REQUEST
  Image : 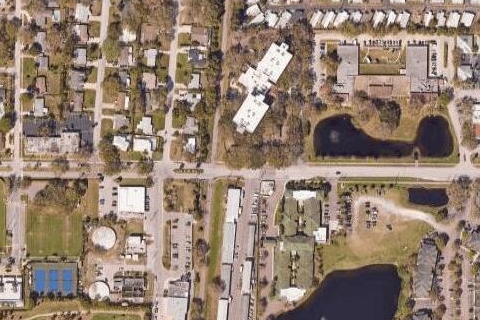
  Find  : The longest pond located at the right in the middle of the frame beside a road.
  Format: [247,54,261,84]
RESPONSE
[314,114,453,158]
